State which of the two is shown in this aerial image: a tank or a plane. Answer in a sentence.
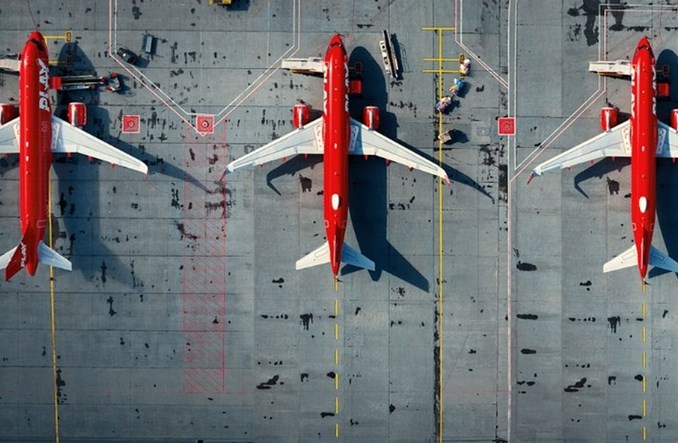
The image shows a plane.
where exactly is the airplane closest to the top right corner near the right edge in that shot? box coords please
[532,37,678,286]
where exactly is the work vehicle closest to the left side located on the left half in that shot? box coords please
[58,74,106,89]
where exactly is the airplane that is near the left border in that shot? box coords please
[0,32,146,281]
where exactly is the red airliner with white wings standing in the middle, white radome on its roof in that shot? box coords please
[217,34,451,282]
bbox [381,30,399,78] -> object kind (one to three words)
work vehicle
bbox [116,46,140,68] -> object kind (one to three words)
car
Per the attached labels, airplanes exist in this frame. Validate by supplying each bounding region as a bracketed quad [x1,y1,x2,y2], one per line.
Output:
[532,37,678,286]
[217,34,451,282]
[0,32,146,281]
